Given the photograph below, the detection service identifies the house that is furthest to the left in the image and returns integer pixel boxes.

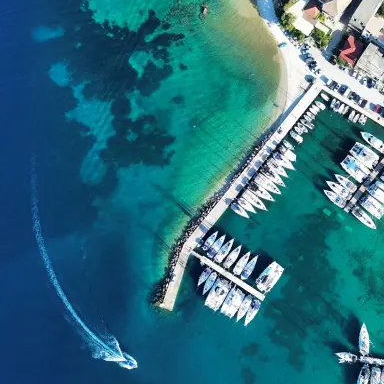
[291,0,329,39]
